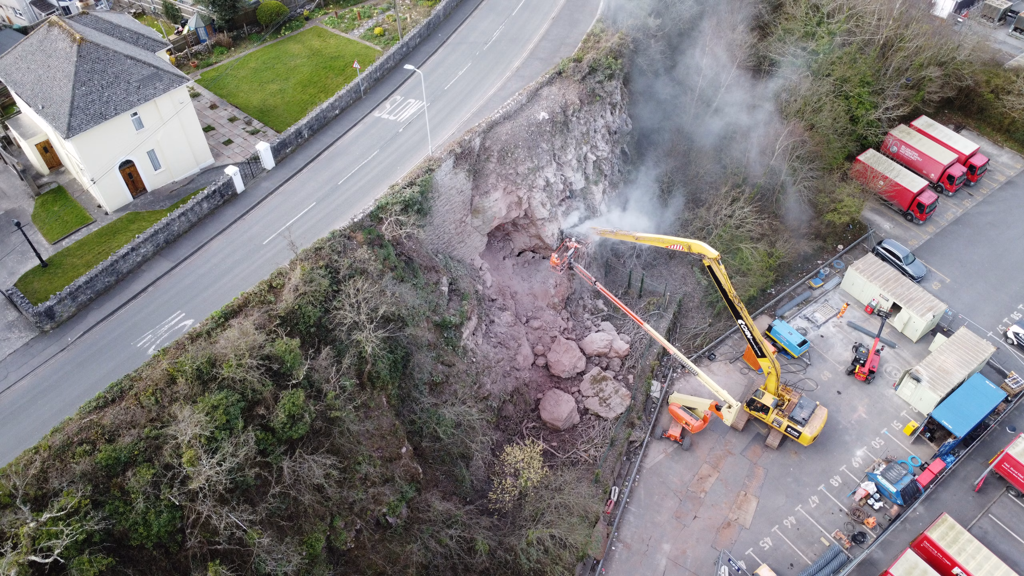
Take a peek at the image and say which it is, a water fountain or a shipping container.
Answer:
shipping container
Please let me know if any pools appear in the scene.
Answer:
No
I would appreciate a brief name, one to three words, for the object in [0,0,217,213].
house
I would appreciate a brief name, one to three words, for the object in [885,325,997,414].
shipping container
